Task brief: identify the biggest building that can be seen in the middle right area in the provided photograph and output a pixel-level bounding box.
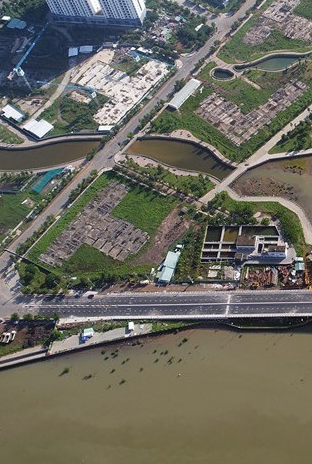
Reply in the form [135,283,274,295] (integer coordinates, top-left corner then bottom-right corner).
[200,225,286,264]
